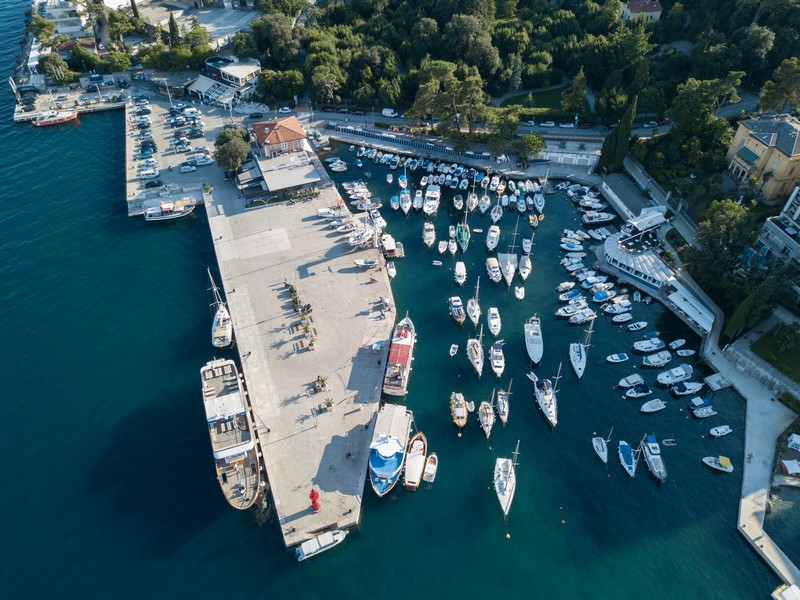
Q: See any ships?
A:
Yes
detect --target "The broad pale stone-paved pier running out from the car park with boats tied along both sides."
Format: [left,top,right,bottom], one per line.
[203,123,397,547]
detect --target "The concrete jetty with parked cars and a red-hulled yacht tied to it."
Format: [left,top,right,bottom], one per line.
[14,87,127,125]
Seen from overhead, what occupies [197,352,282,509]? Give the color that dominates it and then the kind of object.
white ship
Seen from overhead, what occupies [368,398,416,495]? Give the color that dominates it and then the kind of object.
white boat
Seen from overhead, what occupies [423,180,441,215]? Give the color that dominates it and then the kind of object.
white boat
